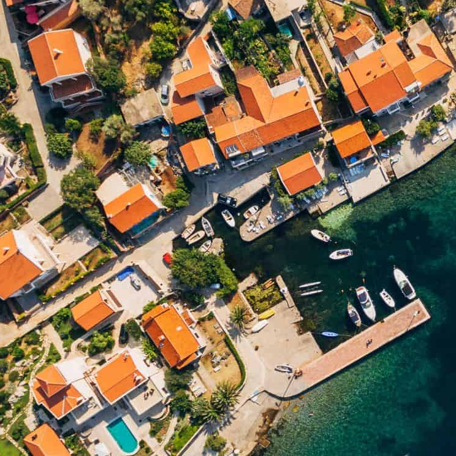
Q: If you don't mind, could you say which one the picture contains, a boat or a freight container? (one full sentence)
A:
Looking from above, you can make out a boat.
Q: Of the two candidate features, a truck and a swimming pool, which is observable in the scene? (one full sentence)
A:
Looking from above, you can make out a swimming pool.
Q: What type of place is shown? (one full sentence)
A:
It's a residential area.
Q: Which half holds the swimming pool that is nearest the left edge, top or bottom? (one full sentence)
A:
It is in the bottom half that the swimming pool that is nearest the left edge appears.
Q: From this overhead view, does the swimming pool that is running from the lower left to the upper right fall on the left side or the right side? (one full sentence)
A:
The swimming pool that is running from the lower left to the upper right is on the left side of the image.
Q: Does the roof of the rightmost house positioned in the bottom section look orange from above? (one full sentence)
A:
Yes, the roof of the rightmost house positioned in the bottom section appears orange.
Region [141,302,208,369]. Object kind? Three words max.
house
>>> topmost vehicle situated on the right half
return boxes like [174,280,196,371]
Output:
[401,99,415,111]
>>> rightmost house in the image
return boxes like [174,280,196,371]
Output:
[407,18,451,91]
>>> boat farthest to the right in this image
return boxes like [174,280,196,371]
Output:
[394,269,416,300]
